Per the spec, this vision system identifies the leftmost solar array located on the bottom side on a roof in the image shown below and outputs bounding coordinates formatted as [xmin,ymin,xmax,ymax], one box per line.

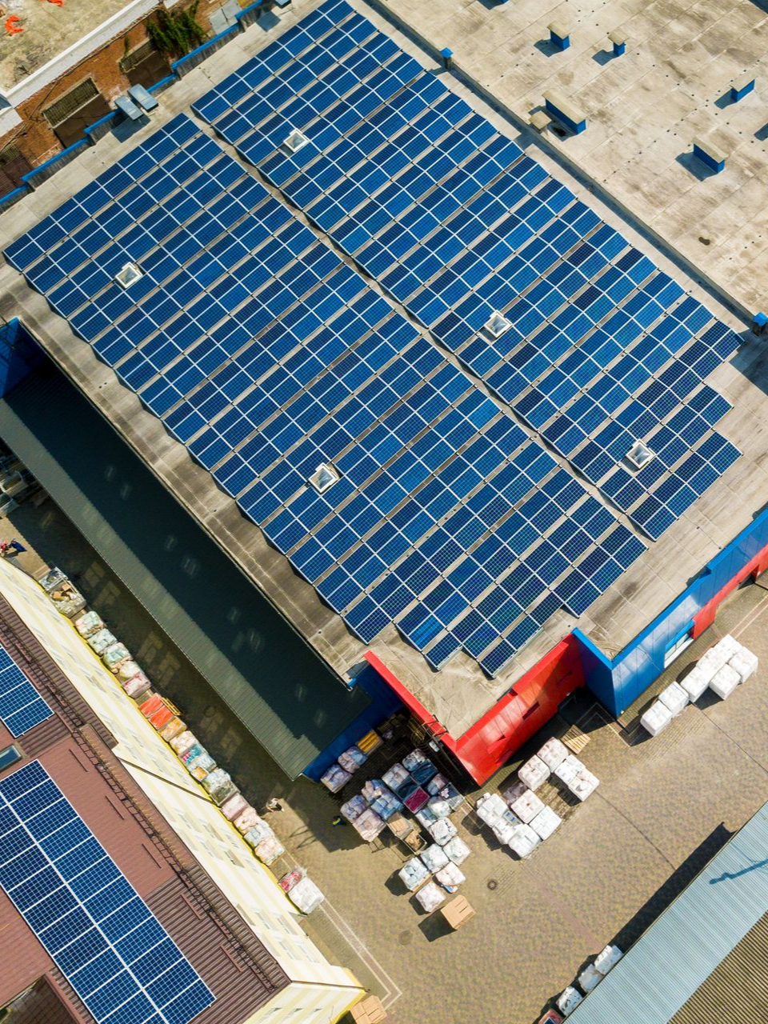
[0,640,52,736]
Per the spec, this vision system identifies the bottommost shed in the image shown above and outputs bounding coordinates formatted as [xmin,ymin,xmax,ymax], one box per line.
[560,797,768,1024]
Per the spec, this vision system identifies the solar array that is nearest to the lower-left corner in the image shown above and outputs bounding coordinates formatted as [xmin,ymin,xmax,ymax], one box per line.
[0,759,212,1024]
